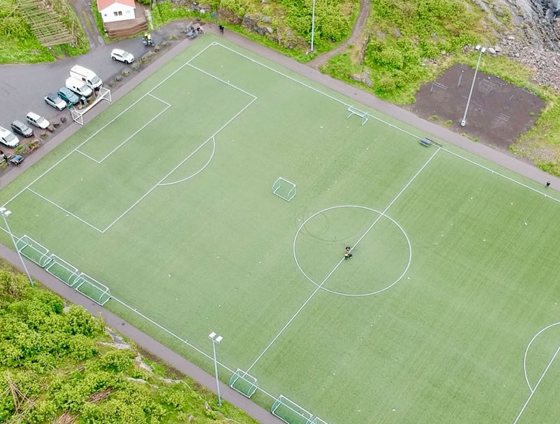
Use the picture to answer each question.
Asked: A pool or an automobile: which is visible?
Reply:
automobile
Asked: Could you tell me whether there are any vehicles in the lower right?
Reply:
No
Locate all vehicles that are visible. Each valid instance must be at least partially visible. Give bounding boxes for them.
[57,86,80,104]
[142,34,149,44]
[9,119,35,140]
[70,63,103,92]
[0,127,19,149]
[147,35,155,46]
[110,49,135,66]
[43,93,68,112]
[66,76,94,99]
[26,111,50,131]
[9,153,26,167]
